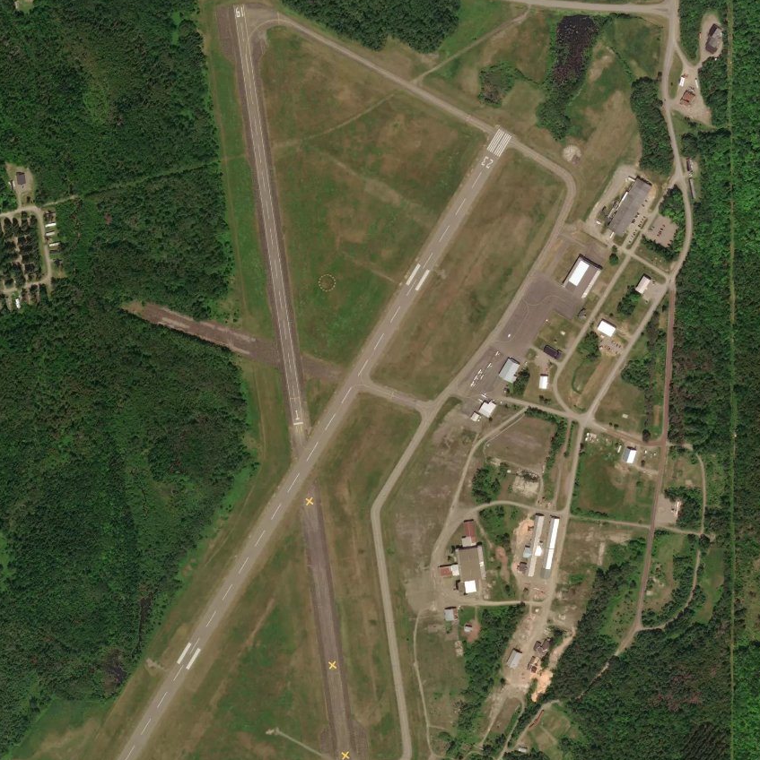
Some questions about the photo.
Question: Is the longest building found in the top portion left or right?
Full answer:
The longest building found in the top portion sits on the right side.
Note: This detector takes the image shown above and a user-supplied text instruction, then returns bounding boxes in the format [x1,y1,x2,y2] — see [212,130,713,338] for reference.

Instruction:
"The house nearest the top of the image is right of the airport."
[704,27,723,56]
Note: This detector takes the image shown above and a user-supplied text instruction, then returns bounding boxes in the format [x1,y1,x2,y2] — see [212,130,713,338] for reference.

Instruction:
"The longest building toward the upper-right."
[609,176,651,238]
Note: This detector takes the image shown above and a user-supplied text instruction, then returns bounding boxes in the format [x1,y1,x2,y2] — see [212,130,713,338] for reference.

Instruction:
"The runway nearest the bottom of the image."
[303,478,368,760]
